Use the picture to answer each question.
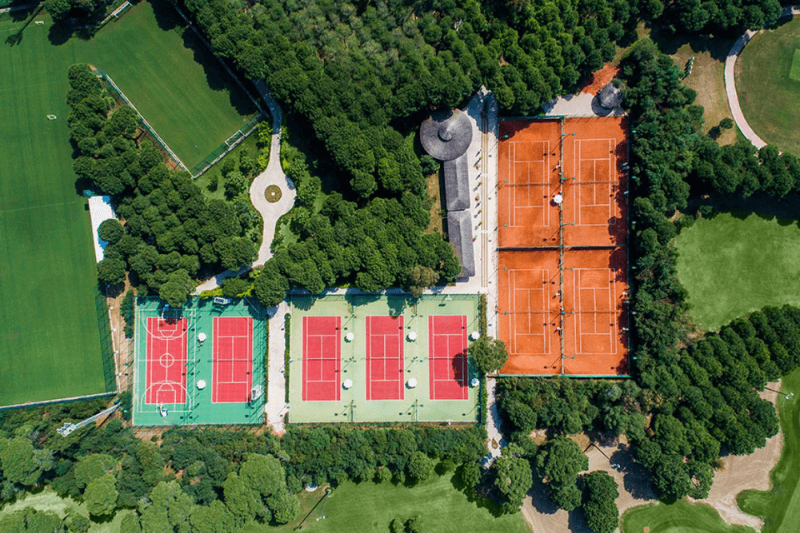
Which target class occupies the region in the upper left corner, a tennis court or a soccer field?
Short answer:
soccer field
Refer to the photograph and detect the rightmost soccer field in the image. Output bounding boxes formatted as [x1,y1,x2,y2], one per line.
[84,0,257,171]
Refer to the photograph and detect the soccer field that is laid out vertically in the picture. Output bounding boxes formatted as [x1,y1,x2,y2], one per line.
[0,7,118,407]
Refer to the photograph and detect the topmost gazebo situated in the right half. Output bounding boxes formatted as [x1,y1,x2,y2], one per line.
[595,87,619,109]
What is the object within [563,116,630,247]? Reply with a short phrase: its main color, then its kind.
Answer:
orange tennis court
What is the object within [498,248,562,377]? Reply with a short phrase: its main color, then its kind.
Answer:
orange tennis court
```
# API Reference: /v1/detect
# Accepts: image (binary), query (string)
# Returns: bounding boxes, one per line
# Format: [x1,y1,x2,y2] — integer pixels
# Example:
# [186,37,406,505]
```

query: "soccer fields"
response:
[84,0,257,171]
[0,7,118,407]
